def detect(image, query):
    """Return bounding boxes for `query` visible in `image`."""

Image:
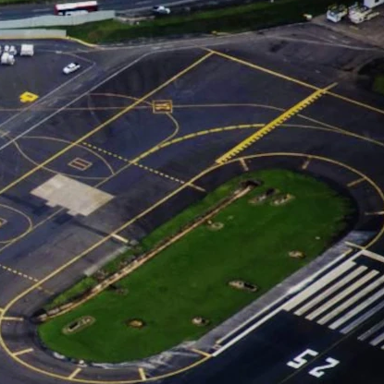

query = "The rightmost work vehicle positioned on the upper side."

[347,0,372,23]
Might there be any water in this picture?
No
